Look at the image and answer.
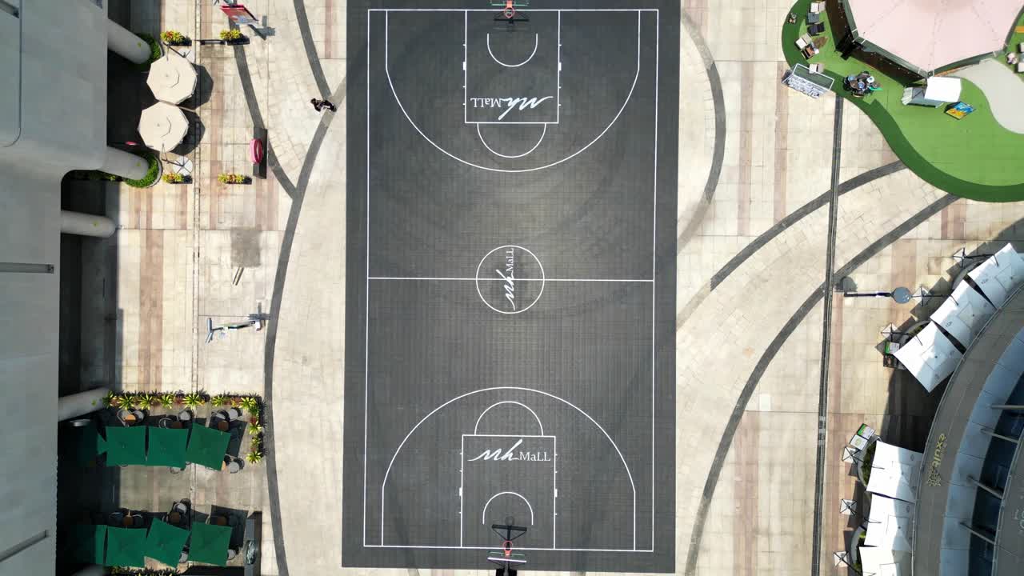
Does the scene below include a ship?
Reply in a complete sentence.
No, there is no ship in the image.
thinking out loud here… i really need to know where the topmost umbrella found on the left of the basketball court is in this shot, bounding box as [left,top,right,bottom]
[146,39,199,105]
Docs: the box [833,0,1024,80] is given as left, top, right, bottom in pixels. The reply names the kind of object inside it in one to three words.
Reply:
building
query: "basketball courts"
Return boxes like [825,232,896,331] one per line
[343,0,681,569]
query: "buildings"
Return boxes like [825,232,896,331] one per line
[0,0,149,576]
[833,0,1024,80]
[909,278,1024,576]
